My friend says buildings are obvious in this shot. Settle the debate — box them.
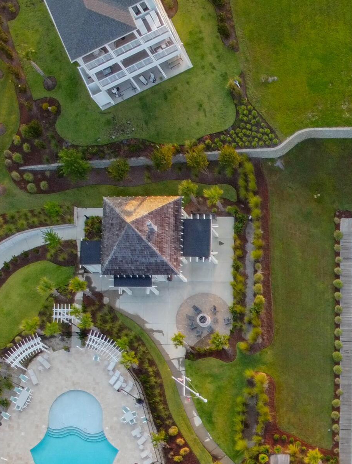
[41,0,196,111]
[71,195,219,295]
